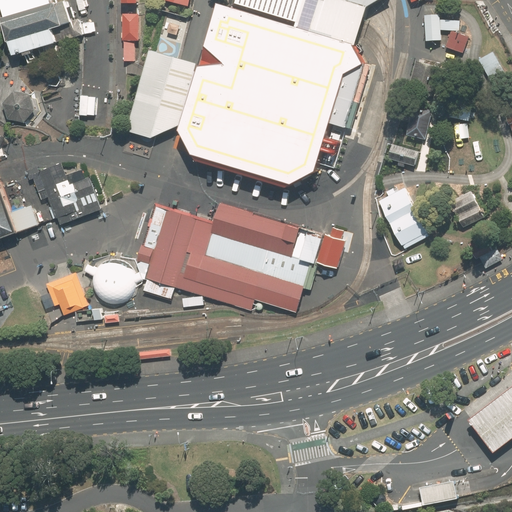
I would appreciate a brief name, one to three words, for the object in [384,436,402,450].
vehicle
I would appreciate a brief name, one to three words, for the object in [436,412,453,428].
car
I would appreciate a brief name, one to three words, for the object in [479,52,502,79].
shed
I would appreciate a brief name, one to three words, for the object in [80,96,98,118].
tent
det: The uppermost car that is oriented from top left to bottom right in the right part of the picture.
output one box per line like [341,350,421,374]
[326,168,341,184]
